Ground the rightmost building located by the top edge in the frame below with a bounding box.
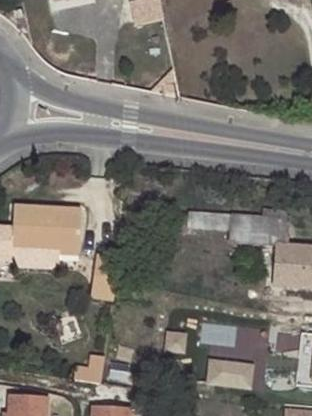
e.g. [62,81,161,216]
[130,0,164,26]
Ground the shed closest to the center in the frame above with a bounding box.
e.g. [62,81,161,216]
[188,210,230,232]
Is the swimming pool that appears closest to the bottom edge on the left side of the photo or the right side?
right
